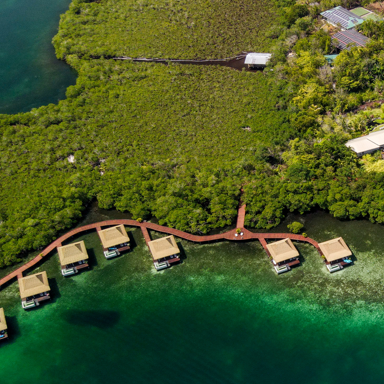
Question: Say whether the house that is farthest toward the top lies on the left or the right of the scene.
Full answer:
It is on the right.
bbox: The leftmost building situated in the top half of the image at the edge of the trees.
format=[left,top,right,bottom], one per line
[244,53,272,70]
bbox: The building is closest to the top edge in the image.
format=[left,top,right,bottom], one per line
[320,6,364,31]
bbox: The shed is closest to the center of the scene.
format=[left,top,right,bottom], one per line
[148,236,183,267]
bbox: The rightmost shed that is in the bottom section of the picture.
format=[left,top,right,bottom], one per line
[318,238,354,270]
